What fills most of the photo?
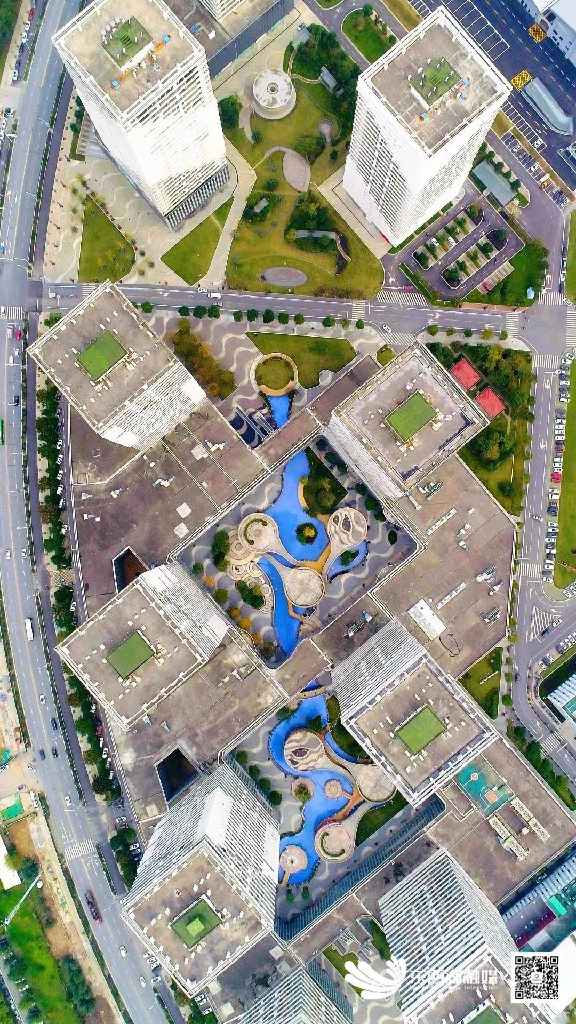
buildings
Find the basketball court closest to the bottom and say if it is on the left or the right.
right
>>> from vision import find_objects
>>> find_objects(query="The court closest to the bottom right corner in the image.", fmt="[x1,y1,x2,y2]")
[451,756,513,816]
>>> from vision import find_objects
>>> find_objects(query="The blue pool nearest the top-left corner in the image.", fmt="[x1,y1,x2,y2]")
[261,391,296,428]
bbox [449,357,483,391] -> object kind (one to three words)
house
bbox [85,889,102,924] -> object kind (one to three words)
vehicle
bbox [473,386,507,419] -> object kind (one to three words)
house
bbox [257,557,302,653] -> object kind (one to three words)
swimming pool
